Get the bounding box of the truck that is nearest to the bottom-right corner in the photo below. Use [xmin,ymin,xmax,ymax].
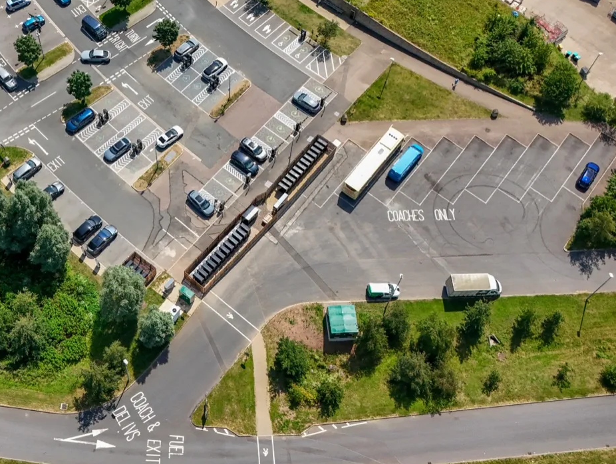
[443,273,501,299]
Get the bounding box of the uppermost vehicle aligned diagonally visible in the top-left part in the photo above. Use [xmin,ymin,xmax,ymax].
[82,12,109,42]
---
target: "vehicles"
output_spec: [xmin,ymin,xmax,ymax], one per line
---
[2,0,35,13]
[229,150,259,175]
[101,136,136,162]
[9,155,44,178]
[443,273,501,299]
[201,55,229,79]
[84,223,120,256]
[20,16,47,30]
[65,109,95,132]
[362,281,402,300]
[58,0,71,6]
[236,133,270,161]
[184,188,217,217]
[575,162,600,191]
[385,143,423,183]
[153,124,187,151]
[79,48,112,63]
[172,37,201,60]
[69,214,105,245]
[82,12,109,42]
[338,125,410,208]
[0,63,19,94]
[291,90,324,115]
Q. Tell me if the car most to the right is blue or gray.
blue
